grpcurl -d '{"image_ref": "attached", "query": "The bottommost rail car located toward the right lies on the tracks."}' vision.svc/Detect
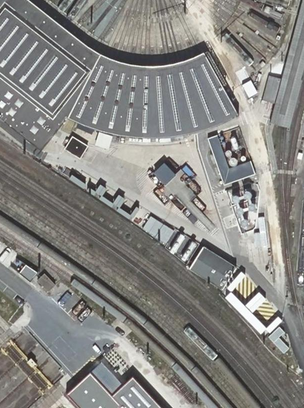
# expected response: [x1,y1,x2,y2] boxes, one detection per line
[184,328,219,359]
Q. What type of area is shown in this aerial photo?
rail yard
